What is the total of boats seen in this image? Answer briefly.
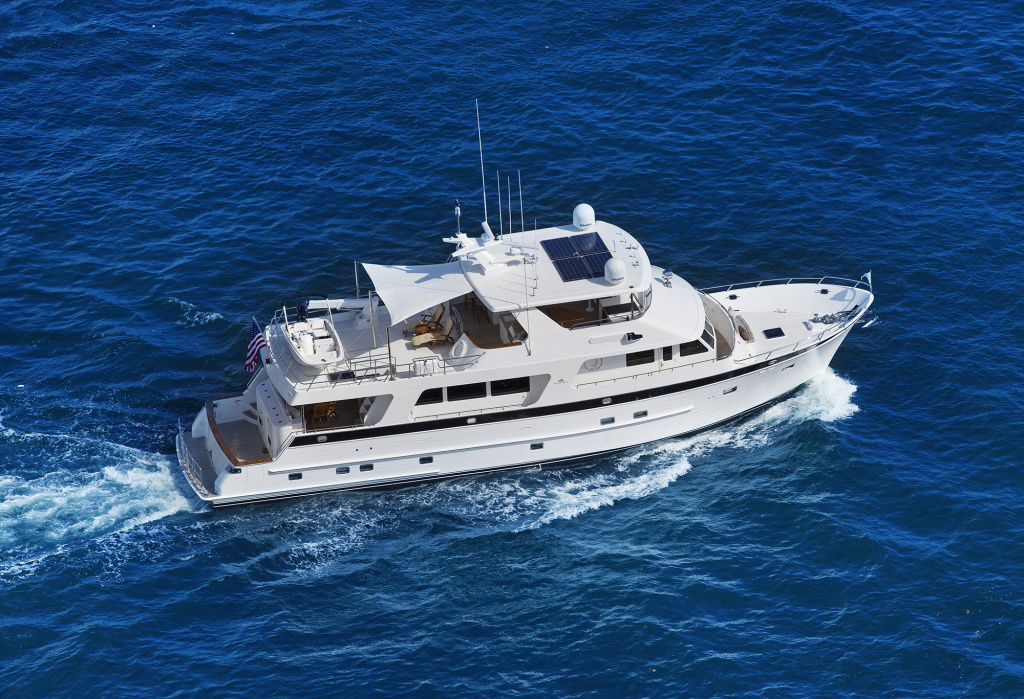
2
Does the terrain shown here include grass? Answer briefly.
No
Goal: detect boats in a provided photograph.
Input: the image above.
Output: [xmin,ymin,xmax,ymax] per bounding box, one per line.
[177,99,882,510]
[281,289,343,382]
